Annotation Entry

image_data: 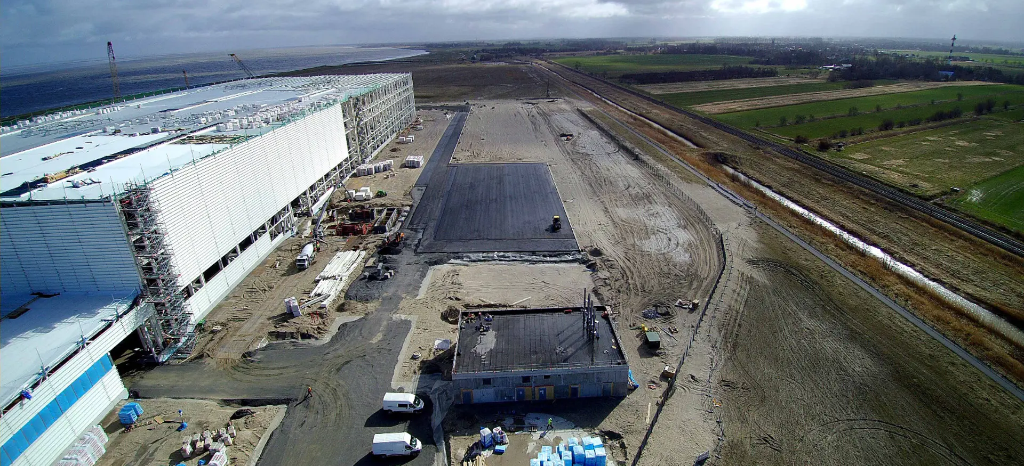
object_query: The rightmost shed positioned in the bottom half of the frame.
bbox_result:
[640,329,665,352]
